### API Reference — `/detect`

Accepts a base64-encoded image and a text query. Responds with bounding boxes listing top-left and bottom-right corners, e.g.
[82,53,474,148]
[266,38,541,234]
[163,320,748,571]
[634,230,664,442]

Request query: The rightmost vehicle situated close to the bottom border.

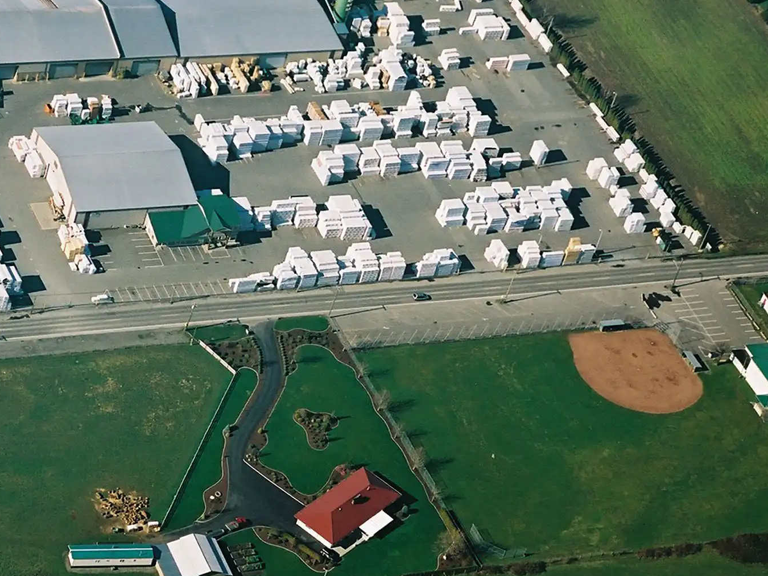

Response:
[320,545,345,561]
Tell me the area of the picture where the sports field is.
bottom right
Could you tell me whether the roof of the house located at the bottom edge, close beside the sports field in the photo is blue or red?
red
